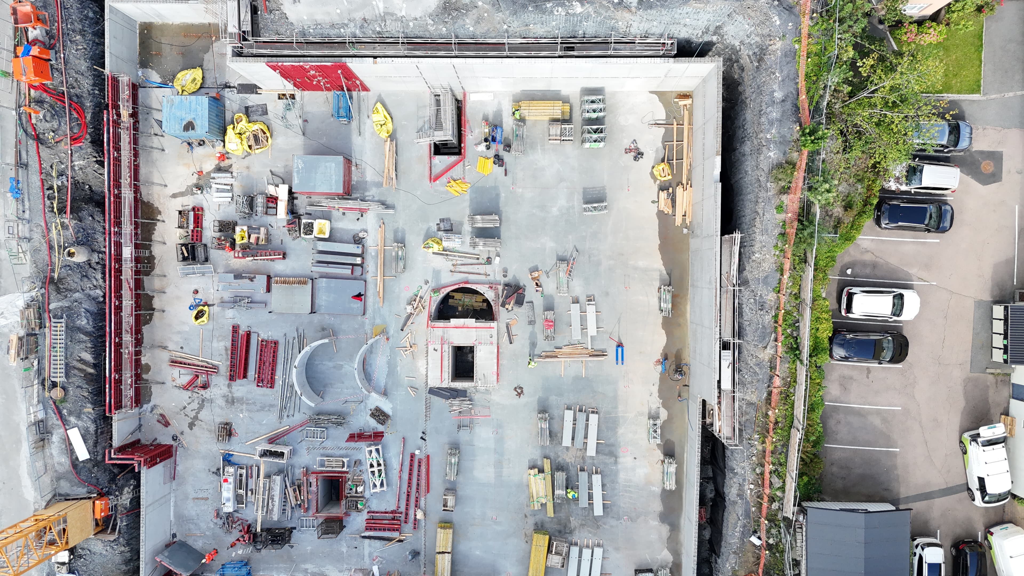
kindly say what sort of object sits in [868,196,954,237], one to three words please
car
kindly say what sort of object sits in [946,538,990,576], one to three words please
car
